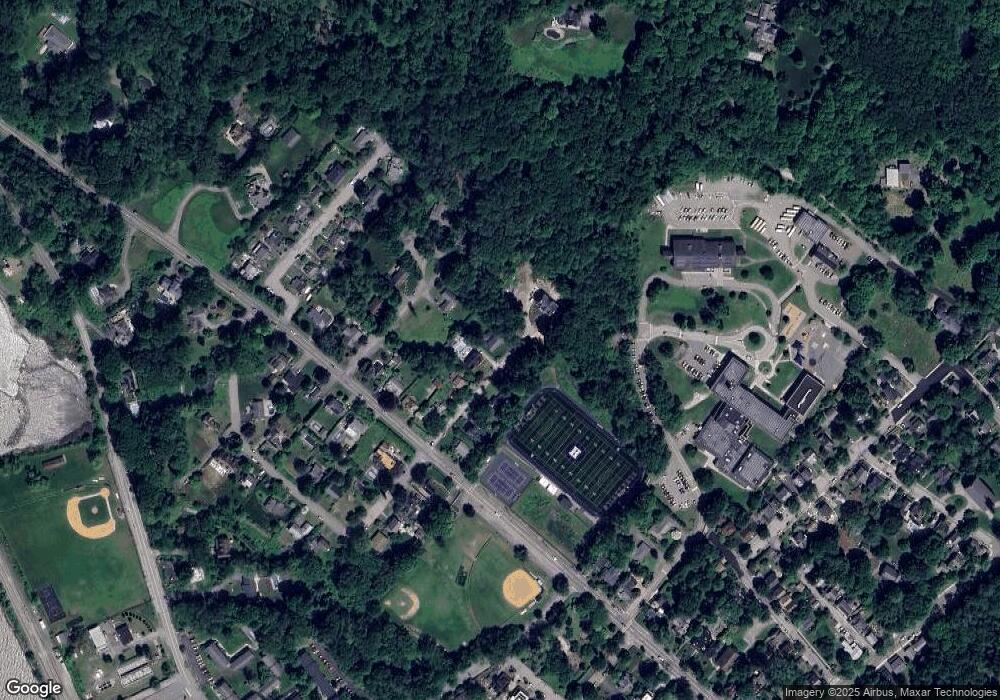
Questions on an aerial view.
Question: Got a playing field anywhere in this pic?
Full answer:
Yes, the photo shows a playing field.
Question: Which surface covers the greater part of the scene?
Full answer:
For the most part, this view shows trees.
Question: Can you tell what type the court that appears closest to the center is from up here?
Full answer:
The court that appears closest to the center in the image is a tennis court.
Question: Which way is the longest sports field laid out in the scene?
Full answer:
The longest sports field has been laid out diagonally relative to the frame.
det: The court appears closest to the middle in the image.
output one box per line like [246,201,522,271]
[480,452,533,506]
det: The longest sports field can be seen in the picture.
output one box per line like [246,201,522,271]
[511,393,639,513]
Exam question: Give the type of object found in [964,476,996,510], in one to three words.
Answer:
building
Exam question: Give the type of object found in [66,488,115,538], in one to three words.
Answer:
baseball field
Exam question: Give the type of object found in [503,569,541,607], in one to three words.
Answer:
baseball field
